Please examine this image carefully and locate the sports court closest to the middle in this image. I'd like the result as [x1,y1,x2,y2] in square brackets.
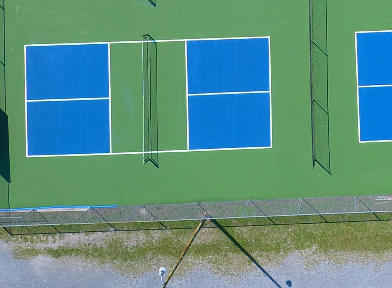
[188,94,271,150]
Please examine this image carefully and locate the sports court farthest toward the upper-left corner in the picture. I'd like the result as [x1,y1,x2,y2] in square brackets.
[25,43,109,101]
